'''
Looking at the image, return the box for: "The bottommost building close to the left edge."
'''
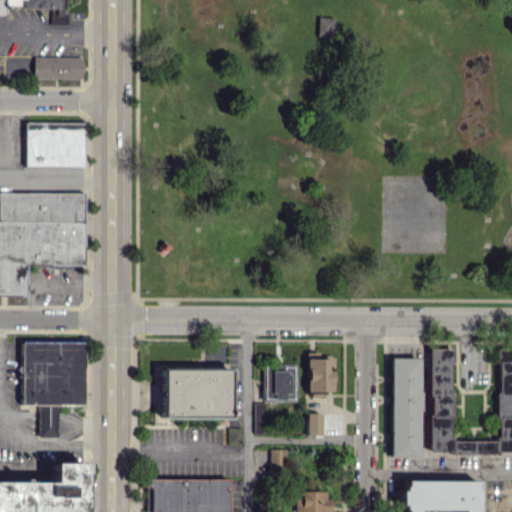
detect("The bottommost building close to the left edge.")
[0,464,96,512]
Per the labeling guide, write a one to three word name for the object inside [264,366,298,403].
house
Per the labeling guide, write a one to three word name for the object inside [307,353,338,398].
house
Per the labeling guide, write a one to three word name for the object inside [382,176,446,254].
sports court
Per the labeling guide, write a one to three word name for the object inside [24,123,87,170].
building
